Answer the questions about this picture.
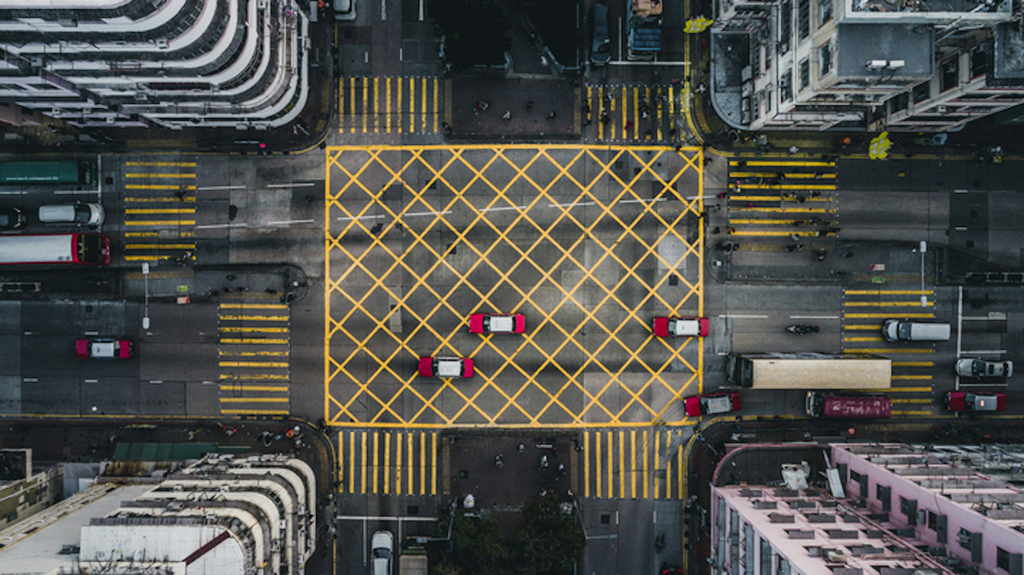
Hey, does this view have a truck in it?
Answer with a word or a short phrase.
Yes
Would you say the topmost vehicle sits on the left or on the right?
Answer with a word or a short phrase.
left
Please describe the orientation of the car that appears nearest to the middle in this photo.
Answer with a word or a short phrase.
from side to side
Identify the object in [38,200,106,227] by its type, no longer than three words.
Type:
vehicle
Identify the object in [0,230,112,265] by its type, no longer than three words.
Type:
bus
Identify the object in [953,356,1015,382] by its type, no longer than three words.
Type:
car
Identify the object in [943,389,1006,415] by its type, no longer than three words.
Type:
car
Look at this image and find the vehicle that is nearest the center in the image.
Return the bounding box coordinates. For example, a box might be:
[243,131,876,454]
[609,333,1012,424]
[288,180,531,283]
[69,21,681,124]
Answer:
[468,311,527,337]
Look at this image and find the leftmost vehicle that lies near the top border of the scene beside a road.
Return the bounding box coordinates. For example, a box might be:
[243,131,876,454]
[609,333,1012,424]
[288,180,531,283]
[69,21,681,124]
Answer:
[331,0,358,22]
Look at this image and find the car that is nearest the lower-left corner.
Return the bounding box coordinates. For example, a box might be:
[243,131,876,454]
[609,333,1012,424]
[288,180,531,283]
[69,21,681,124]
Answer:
[77,337,137,363]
